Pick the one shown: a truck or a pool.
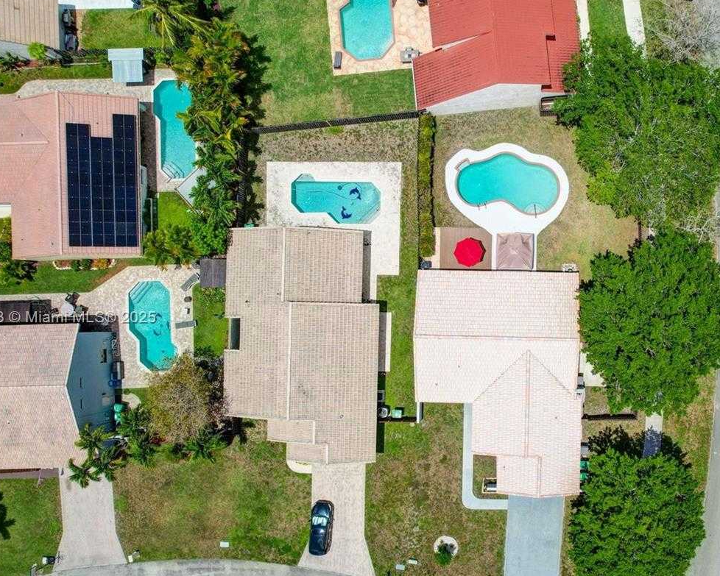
pool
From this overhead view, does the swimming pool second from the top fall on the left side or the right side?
left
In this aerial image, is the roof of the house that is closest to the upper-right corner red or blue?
red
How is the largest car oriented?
up and down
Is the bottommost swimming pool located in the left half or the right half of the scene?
left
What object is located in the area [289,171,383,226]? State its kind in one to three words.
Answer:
swimming pool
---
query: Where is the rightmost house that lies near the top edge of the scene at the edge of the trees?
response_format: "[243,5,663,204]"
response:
[413,0,580,114]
